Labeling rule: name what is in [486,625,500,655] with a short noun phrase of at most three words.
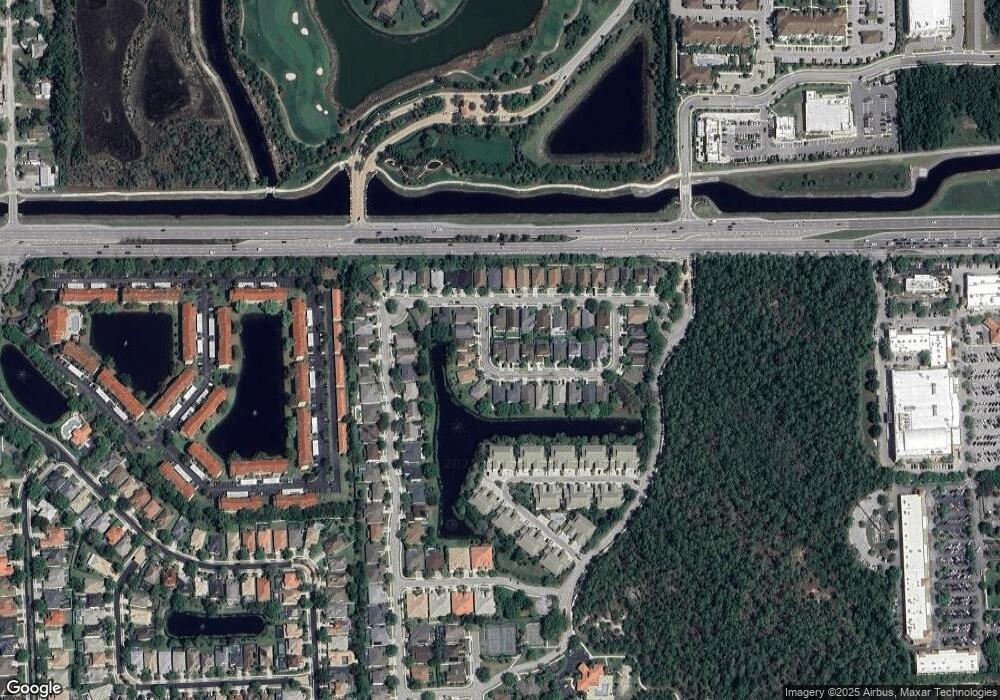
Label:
tennis court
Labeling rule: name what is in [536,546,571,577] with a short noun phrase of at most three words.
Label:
house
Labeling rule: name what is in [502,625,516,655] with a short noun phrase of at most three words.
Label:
tennis court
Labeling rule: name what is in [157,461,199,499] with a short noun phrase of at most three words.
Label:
building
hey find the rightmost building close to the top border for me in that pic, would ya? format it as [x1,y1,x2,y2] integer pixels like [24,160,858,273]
[908,0,951,38]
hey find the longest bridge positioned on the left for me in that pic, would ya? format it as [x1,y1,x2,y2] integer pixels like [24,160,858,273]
[351,172,366,223]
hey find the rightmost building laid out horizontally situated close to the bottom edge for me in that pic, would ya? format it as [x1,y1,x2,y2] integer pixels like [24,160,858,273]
[917,649,978,673]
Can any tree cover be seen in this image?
Yes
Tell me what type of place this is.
residential area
